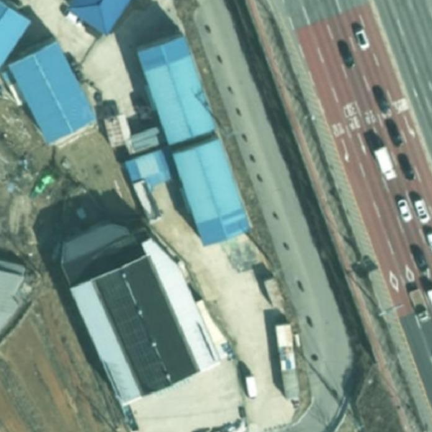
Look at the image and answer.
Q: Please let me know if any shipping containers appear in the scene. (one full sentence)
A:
Yes, a shipping container appears in the view.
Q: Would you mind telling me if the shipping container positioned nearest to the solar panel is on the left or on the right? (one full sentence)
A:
You can find the shipping container positioned nearest to the solar panel on the left side of the picture.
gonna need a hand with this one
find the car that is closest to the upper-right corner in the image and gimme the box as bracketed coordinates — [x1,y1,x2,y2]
[354,23,371,52]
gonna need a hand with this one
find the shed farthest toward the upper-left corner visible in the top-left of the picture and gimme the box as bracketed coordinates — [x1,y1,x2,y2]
[0,0,32,66]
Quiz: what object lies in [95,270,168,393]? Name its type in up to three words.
solar panel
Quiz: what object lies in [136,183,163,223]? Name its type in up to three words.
shipping container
